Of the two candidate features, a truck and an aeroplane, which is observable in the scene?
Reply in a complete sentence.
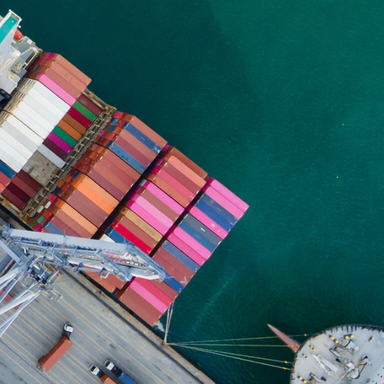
There is a truck in the scene.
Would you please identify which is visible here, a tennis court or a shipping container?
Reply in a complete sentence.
Looking from above, you can make out a shipping container.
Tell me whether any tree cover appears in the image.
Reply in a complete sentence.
No, the picture contains no tree cover.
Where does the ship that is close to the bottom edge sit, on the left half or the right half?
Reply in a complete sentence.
The ship that is close to the bottom edge sits on the right side.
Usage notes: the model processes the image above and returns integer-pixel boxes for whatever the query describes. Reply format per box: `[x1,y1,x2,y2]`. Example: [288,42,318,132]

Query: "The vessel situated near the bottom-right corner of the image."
[271,326,384,384]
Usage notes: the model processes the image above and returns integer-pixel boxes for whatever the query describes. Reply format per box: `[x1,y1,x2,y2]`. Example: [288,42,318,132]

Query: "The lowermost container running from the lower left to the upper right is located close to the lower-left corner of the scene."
[37,337,66,377]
